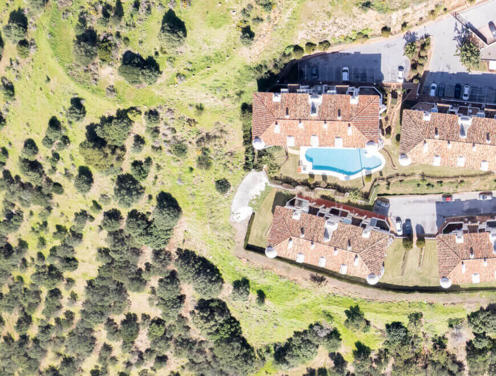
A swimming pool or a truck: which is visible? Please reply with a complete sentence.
The image shows a swimming pool.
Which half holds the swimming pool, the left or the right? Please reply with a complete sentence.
It is on the right.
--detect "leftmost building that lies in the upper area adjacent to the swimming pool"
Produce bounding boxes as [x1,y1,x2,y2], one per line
[251,82,393,156]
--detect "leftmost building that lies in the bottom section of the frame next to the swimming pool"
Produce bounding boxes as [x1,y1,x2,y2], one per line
[264,196,399,283]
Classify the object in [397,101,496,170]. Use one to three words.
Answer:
building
